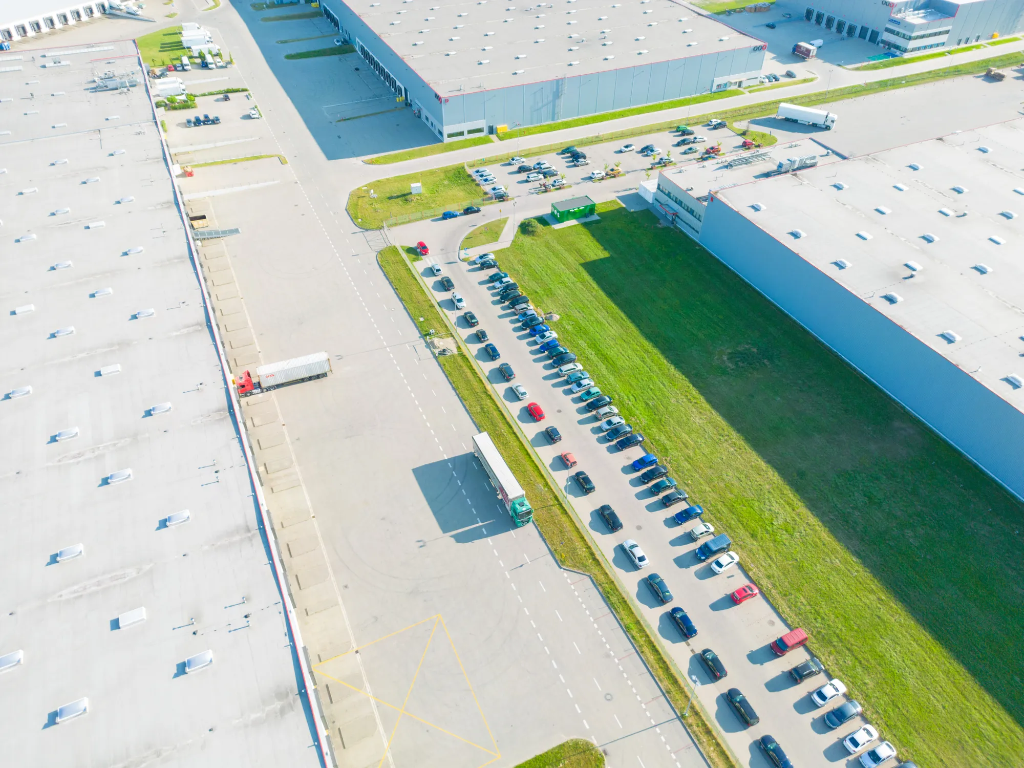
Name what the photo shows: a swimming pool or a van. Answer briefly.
van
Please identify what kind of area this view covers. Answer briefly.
industrial area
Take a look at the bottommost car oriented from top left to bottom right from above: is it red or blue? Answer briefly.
blue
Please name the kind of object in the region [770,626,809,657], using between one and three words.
van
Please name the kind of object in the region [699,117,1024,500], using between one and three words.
warehouse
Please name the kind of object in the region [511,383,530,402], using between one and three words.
car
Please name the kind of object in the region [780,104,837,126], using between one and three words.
truck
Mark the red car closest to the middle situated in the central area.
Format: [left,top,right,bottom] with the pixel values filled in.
[527,404,546,422]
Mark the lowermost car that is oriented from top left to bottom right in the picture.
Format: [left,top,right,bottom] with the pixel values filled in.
[758,733,795,768]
